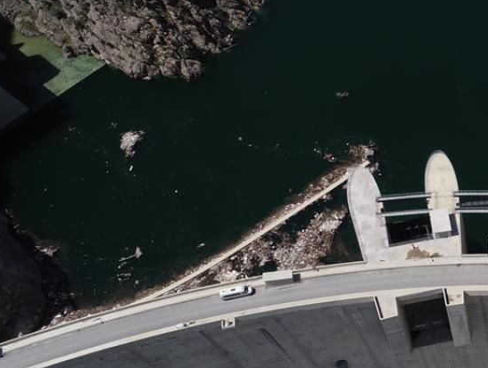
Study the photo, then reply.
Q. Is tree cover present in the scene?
No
